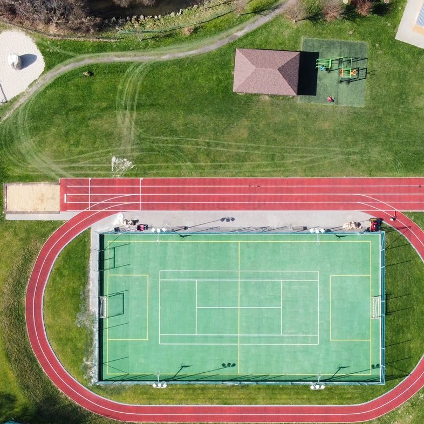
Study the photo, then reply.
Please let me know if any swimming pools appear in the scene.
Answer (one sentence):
No, there isn't any swimming pool down there.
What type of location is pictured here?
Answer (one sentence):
This looks like a sports ground.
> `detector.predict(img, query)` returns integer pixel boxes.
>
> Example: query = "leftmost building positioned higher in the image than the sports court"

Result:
[233,49,300,97]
